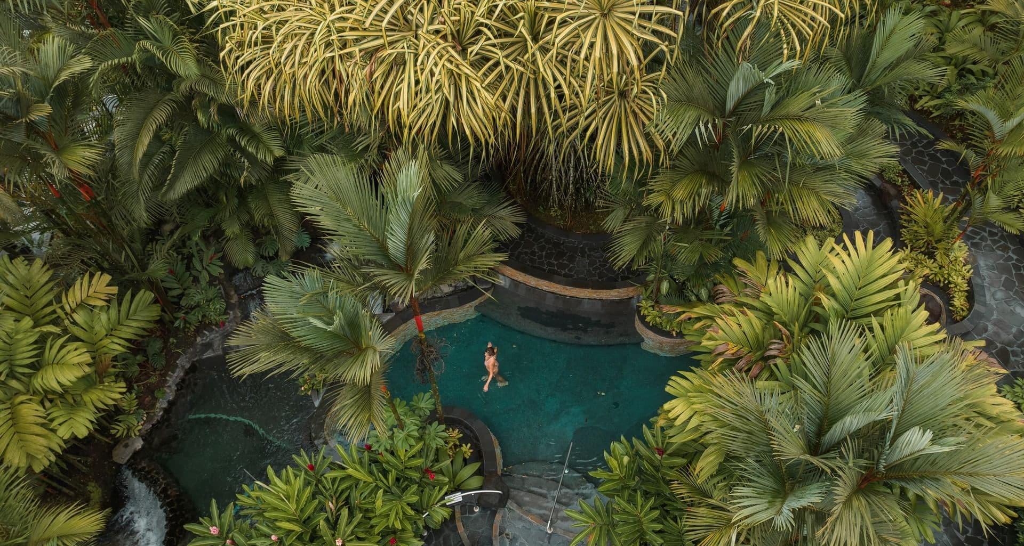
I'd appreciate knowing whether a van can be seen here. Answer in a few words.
No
